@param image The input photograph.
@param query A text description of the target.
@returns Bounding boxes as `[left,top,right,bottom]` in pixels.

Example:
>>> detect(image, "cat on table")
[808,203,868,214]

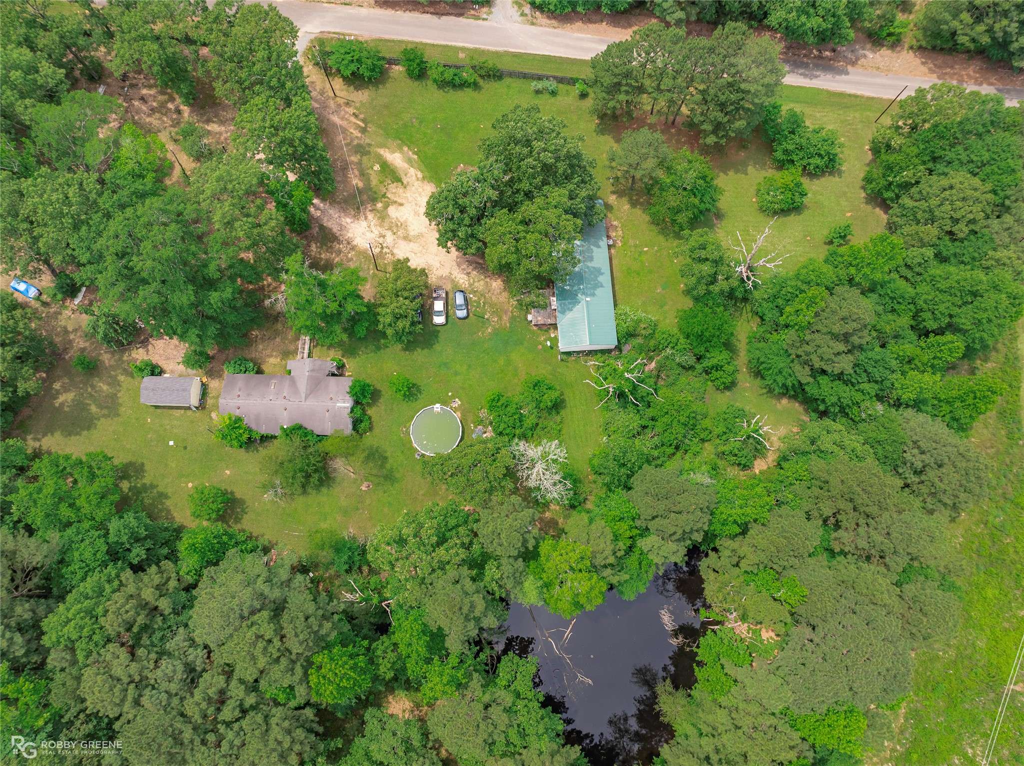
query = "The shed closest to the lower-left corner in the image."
[140,376,201,407]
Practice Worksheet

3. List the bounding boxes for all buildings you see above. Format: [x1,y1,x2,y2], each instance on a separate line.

[553,200,618,350]
[140,376,201,407]
[220,359,355,435]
